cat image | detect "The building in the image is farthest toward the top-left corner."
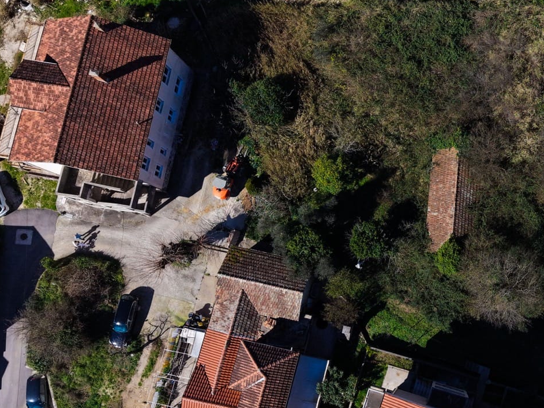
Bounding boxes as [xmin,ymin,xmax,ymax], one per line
[0,14,190,219]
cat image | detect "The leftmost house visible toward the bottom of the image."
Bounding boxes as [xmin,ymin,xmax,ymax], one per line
[181,244,310,408]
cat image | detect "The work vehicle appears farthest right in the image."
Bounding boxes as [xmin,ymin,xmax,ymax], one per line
[207,158,243,201]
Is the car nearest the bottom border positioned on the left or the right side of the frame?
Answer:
left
